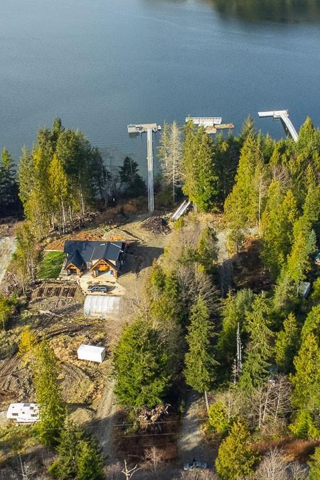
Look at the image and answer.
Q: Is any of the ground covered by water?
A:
Yes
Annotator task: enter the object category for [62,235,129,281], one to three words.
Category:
house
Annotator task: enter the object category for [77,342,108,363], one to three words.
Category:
shed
